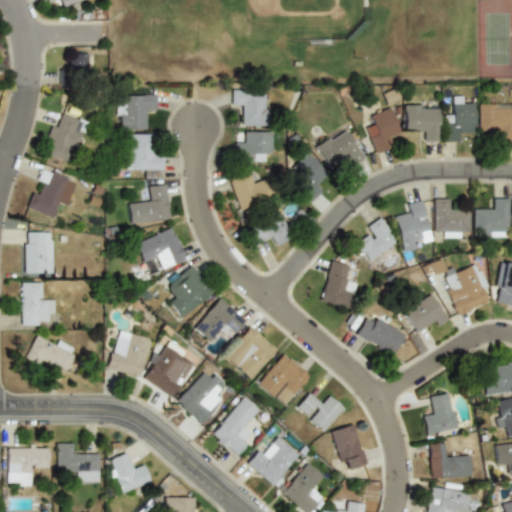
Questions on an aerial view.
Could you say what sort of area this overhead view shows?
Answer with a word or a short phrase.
residential area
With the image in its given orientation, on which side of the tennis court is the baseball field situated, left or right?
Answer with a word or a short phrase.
left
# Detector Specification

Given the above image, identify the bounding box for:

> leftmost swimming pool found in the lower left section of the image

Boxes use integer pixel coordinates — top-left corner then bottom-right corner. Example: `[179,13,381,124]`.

[9,498,33,512]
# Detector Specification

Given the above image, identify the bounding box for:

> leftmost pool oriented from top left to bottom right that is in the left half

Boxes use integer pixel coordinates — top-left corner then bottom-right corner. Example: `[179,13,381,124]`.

[112,310,130,332]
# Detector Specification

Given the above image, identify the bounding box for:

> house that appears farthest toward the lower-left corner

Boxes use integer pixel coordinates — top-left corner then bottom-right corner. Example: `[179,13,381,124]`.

[7,448,52,488]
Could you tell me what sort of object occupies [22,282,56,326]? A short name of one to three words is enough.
house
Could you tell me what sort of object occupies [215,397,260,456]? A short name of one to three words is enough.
house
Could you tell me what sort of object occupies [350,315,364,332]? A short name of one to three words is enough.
camper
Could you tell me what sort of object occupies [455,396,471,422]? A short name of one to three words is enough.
swimming pool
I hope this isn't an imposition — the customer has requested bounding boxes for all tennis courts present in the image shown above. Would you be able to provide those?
[478,0,512,78]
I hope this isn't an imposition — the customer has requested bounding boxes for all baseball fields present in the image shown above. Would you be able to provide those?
[250,0,346,20]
